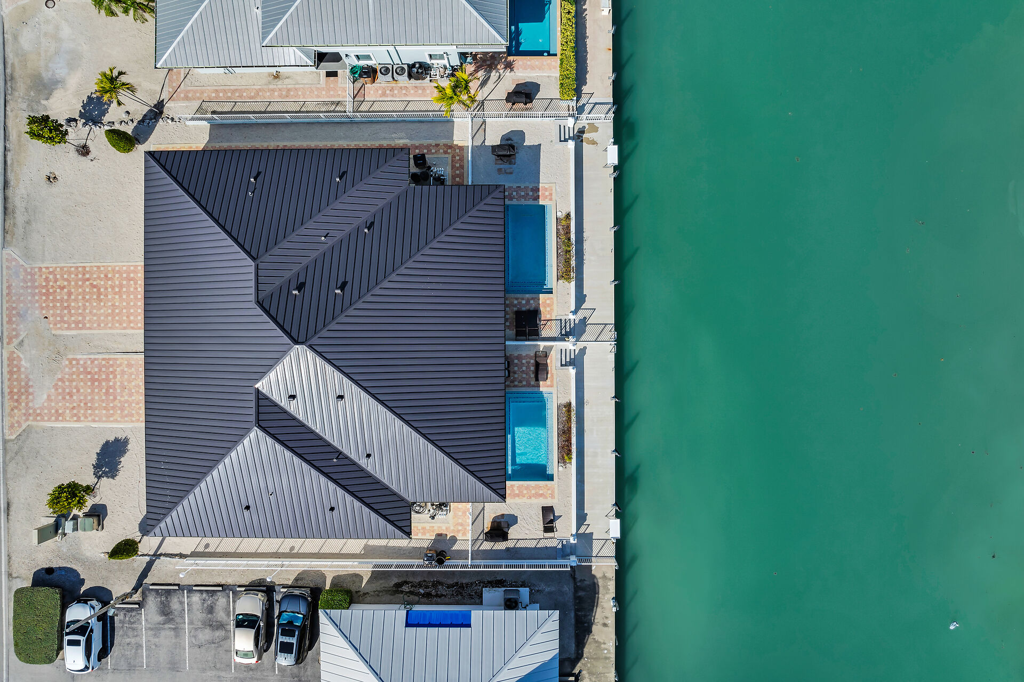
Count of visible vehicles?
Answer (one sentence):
My tally gives 3 vehicles in this view.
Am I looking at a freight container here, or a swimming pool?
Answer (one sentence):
Visible in the photo is a swimming pool.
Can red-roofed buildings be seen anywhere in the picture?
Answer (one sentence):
No, no red-roofed building is visible in the view.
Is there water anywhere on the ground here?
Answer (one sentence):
Yes, water can be seen from above here.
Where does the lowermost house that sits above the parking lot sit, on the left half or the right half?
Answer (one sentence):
The lowermost house that sits above the parking lot is on the left side of the image.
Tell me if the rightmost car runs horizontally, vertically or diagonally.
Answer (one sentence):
I'd say the rightmost car is aligned vertically in the picture.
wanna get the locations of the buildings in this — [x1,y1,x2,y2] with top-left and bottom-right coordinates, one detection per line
[318,601,561,682]
[144,146,507,540]
[154,0,509,74]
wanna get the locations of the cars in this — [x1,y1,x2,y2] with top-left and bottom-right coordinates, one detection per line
[273,587,313,670]
[64,596,108,674]
[230,589,269,668]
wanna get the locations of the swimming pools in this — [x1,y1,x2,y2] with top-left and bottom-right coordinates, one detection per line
[505,389,557,485]
[505,201,556,297]
[505,0,560,58]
